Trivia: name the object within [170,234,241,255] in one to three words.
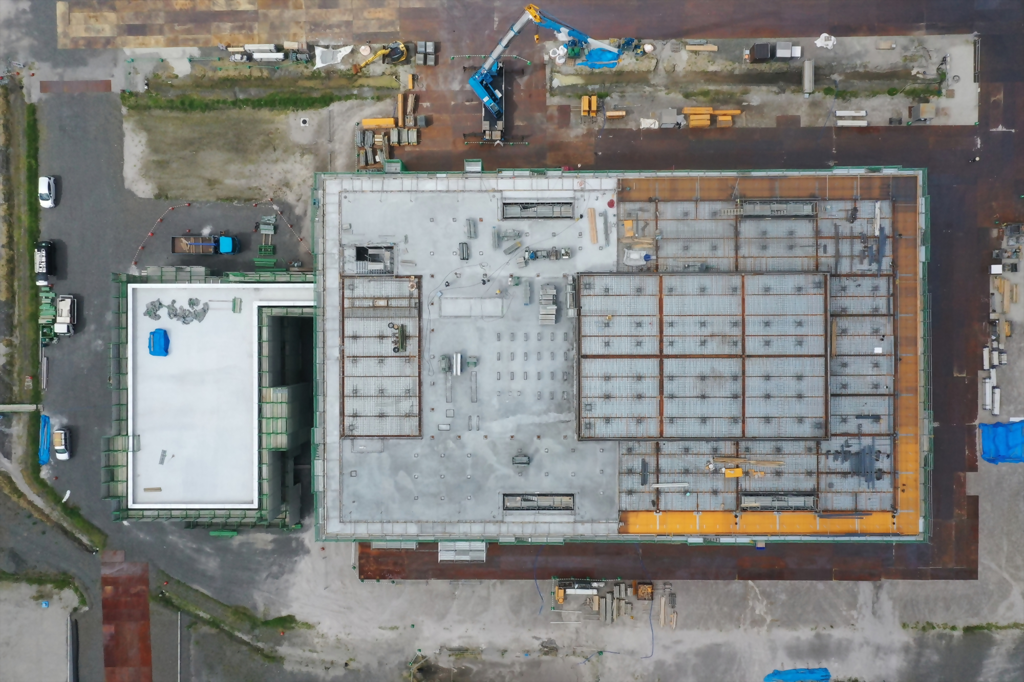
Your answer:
truck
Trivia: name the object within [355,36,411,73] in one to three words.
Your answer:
work vehicle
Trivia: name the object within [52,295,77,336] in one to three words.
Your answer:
truck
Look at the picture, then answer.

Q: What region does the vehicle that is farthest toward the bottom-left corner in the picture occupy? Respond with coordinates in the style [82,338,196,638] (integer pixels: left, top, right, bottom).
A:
[55,427,75,459]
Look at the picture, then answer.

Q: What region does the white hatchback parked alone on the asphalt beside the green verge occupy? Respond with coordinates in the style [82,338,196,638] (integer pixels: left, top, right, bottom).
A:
[37,177,57,209]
